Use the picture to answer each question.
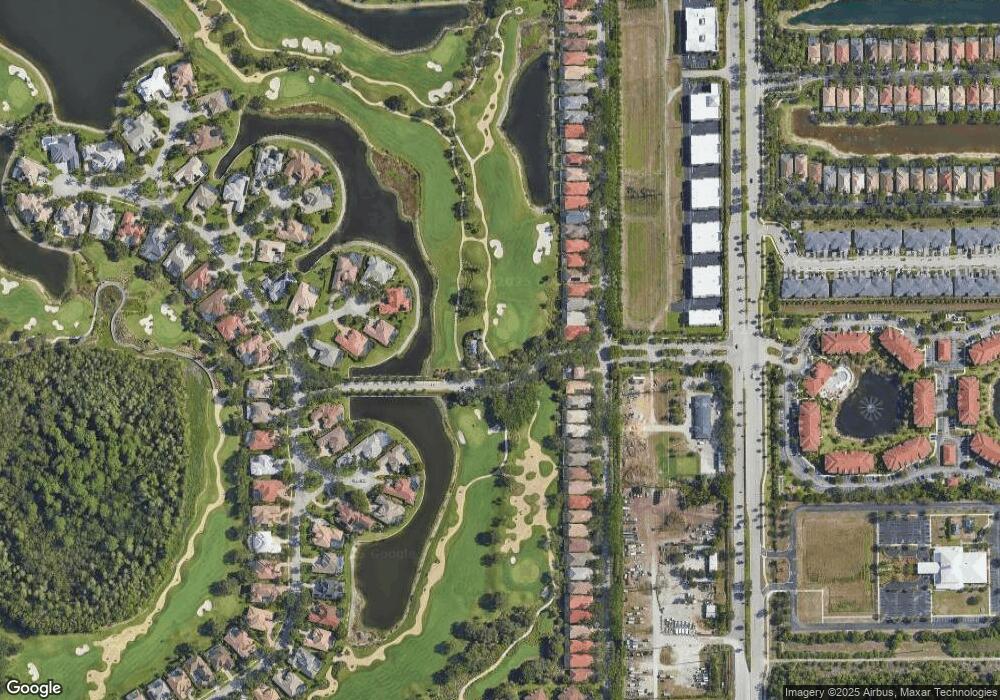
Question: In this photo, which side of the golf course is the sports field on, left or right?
on the right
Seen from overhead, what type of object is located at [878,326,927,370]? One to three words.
building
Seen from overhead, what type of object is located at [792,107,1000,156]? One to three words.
pond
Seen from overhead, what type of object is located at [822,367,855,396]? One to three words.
swimming pool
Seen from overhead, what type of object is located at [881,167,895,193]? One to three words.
house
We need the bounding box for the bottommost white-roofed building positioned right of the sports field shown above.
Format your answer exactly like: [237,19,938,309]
[919,547,988,590]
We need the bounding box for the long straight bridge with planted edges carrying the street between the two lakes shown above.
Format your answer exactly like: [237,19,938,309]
[336,376,478,396]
